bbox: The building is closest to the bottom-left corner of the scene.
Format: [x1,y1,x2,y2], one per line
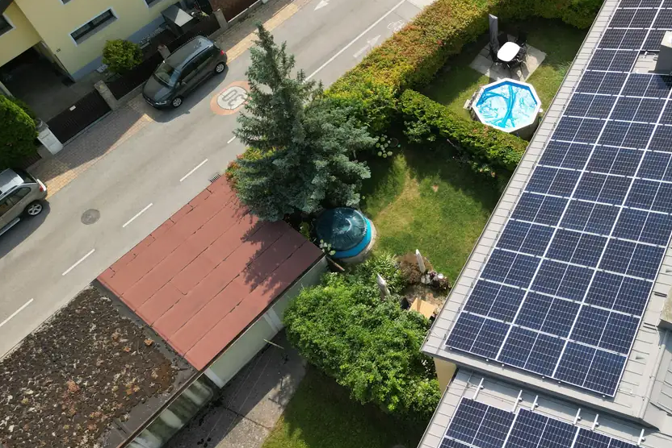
[0,277,218,448]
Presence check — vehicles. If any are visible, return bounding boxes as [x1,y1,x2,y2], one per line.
[137,37,229,112]
[0,165,46,233]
